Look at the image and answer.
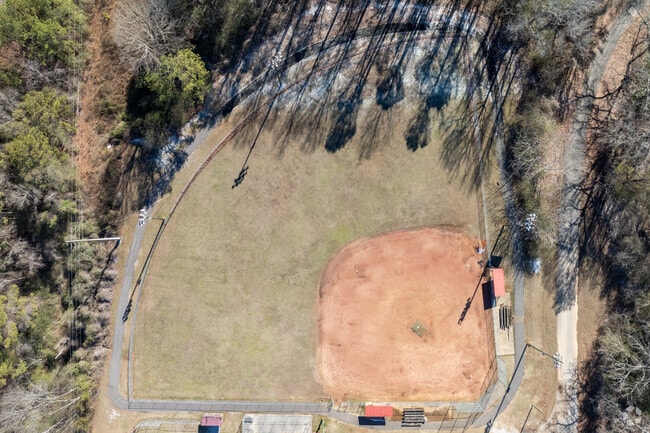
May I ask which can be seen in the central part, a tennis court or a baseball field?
baseball field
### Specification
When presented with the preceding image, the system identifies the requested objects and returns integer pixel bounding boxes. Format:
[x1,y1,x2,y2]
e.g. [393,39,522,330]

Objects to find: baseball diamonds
[131,35,498,402]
